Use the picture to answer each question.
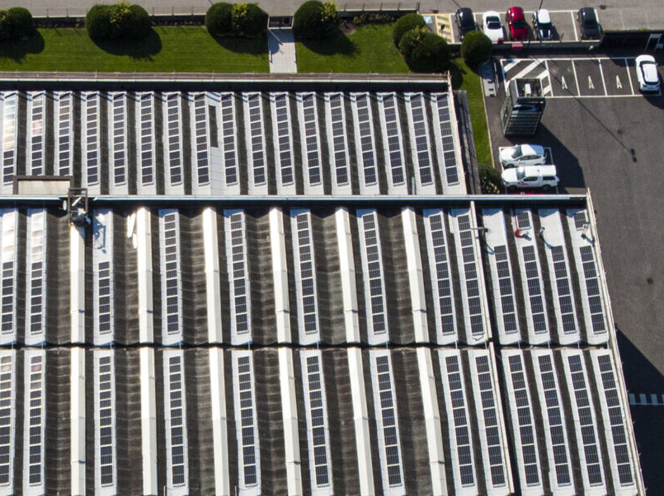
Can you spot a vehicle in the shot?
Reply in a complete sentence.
Yes, there is a vehicle in the image.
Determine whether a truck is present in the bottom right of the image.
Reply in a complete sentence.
No, looking in the bottom right of the image, there is no truck.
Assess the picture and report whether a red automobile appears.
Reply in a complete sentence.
Yes, this view includes a red automobile.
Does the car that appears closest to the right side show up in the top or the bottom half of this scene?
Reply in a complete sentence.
The top half of the photo is where the car that appears closest to the right side is.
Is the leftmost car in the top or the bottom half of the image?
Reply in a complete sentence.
The leftmost car sits in the top half of the picture.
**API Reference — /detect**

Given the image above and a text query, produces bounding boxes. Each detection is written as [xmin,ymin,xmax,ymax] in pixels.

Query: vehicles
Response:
[506,5,528,37]
[577,2,603,38]
[455,1,480,36]
[486,6,508,38]
[502,160,559,187]
[637,53,662,87]
[499,143,548,165]
[533,6,555,36]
